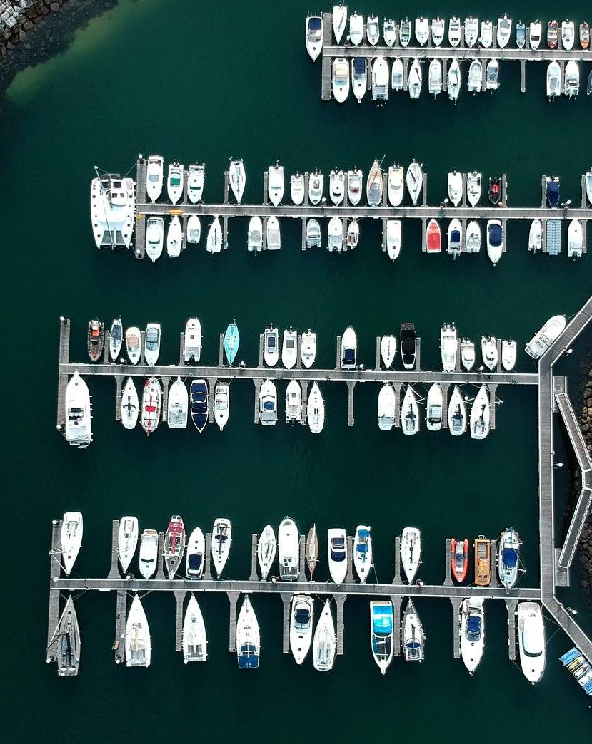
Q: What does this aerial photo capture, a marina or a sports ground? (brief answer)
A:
marina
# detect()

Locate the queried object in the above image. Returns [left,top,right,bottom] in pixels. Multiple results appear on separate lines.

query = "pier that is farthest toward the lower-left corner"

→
[47,590,60,662]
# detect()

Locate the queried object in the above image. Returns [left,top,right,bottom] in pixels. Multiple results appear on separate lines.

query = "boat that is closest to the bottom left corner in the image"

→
[50,594,86,676]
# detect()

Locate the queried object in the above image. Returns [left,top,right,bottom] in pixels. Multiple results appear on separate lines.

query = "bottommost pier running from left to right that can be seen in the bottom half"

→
[50,578,541,600]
